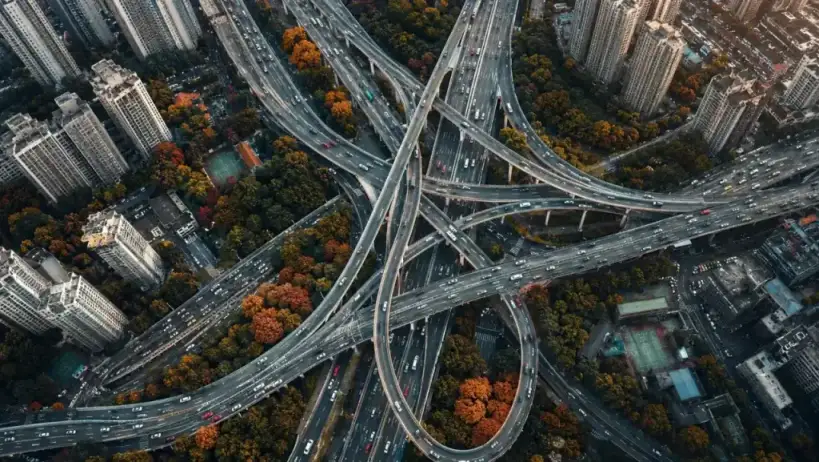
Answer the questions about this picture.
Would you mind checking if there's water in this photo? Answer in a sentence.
No, no water is visible.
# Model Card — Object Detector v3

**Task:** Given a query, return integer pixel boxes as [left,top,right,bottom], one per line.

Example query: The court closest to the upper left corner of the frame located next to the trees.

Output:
[206,148,247,184]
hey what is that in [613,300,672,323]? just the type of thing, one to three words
building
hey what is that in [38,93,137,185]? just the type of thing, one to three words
building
